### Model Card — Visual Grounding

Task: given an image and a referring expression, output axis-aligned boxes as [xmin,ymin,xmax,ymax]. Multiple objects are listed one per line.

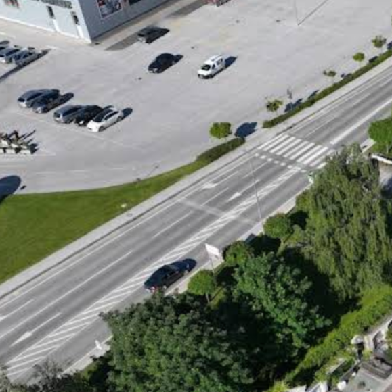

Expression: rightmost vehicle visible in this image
[198,52,229,77]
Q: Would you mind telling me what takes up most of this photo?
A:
paved ground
